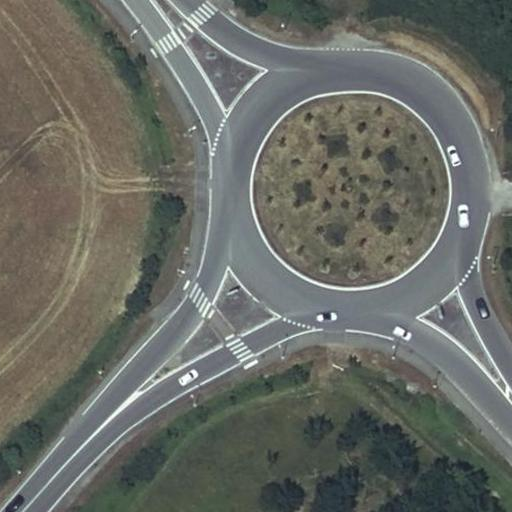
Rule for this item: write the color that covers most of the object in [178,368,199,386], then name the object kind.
white car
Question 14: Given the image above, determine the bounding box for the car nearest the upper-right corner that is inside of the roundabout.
[448,145,462,166]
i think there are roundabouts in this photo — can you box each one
[180,48,492,340]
